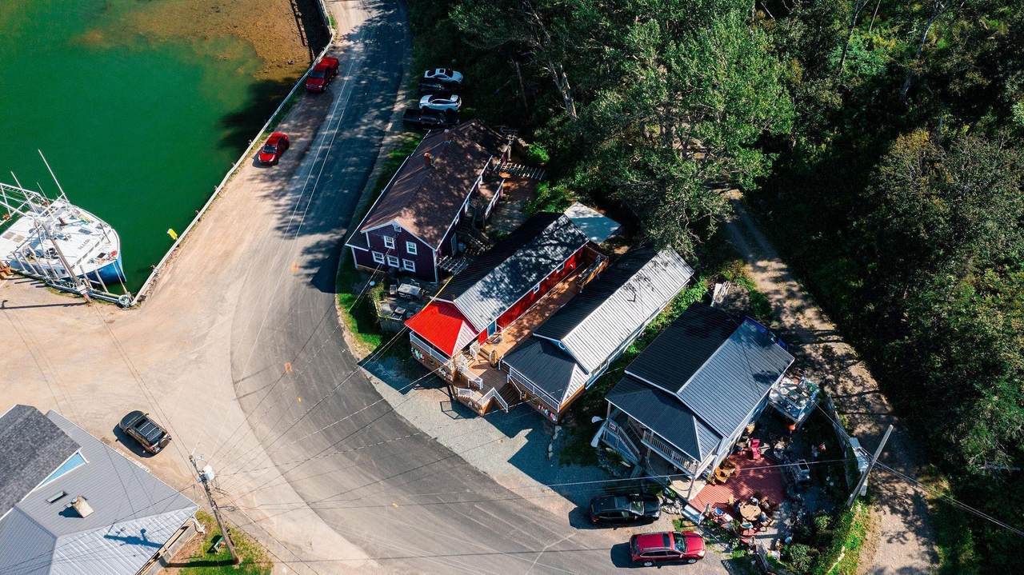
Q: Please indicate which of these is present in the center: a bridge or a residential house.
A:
residential house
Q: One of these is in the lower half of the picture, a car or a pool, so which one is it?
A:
car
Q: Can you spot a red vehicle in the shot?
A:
Yes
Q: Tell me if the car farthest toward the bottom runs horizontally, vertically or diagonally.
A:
horizontally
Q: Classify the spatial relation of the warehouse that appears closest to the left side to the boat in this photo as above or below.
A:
below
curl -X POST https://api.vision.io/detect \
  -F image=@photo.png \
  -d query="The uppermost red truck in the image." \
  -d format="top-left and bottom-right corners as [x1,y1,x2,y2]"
[301,54,341,90]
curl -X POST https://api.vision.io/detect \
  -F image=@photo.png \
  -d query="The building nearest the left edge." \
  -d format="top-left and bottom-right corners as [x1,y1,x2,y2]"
[0,396,202,575]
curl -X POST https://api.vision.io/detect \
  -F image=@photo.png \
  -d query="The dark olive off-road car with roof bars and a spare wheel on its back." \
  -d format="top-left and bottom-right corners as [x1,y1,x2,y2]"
[108,408,175,457]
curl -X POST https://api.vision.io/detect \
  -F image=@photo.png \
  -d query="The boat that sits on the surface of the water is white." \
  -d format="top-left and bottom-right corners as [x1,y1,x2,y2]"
[0,139,130,283]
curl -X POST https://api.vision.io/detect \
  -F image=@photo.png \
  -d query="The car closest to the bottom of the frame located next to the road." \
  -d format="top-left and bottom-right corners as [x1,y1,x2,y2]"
[623,522,708,564]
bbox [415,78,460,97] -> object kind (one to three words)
car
